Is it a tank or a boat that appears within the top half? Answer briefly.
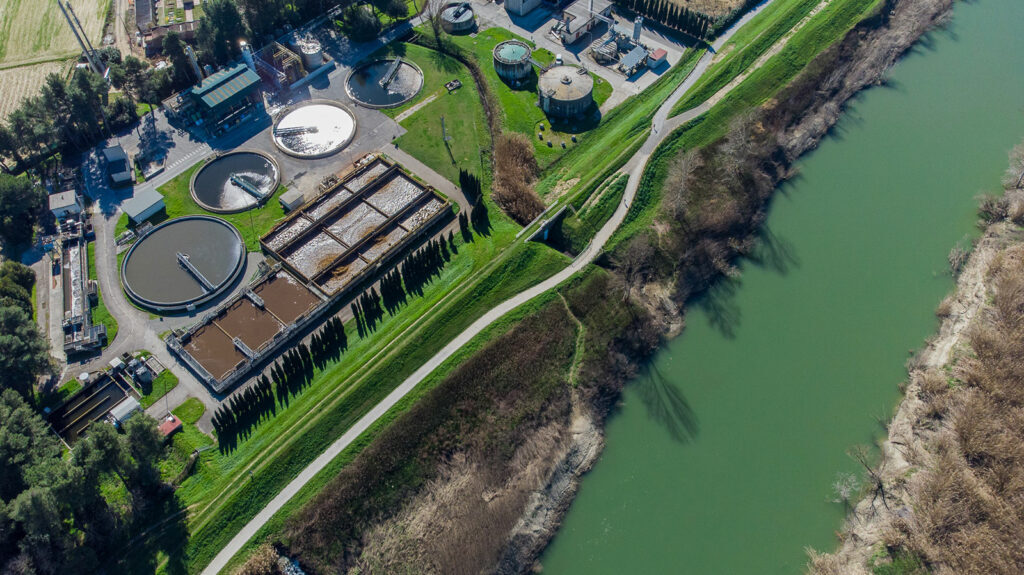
tank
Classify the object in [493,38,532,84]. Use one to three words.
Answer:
storage tank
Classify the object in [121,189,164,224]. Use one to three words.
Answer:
building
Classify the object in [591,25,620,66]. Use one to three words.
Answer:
storage tank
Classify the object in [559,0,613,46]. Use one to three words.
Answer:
building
